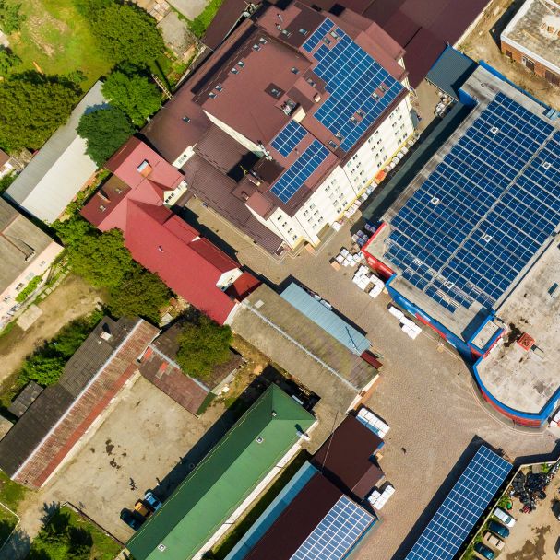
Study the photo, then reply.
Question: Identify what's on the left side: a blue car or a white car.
blue car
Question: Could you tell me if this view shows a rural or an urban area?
urban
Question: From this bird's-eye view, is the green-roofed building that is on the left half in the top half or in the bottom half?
bottom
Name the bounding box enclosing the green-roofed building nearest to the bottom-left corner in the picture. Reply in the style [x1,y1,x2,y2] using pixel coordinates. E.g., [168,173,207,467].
[126,384,317,560]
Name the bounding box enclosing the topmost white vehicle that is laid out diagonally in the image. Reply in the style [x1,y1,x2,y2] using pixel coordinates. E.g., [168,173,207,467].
[492,506,517,529]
